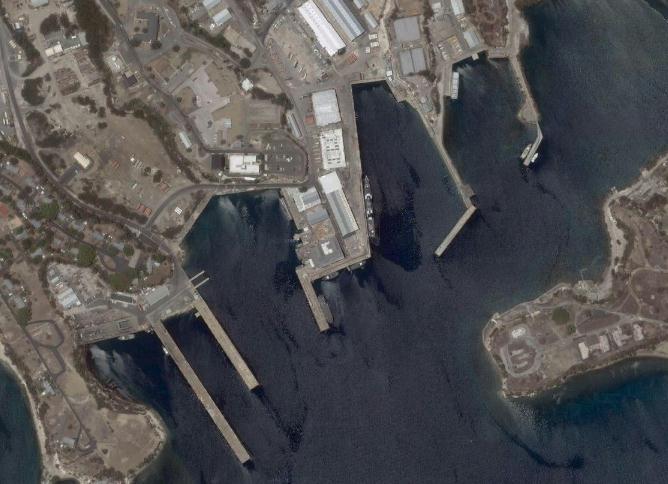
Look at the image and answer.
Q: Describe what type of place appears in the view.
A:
port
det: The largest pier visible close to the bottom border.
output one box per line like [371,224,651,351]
[153,321,250,464]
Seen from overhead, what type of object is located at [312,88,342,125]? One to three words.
building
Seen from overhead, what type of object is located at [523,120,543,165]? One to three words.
pier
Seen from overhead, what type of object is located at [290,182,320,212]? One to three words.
building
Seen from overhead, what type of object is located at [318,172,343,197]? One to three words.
hangar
